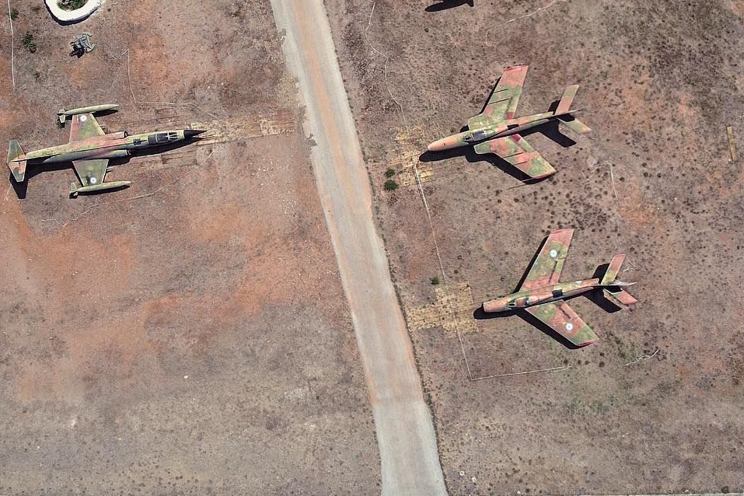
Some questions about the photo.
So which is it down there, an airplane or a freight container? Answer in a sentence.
Looking from above, you can make out an airplane.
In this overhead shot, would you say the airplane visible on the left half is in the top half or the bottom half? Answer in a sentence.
The top half of the photo is where the airplane visible on the left half is.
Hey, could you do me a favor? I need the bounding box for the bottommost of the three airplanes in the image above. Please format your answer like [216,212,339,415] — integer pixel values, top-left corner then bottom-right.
[482,224,636,344]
